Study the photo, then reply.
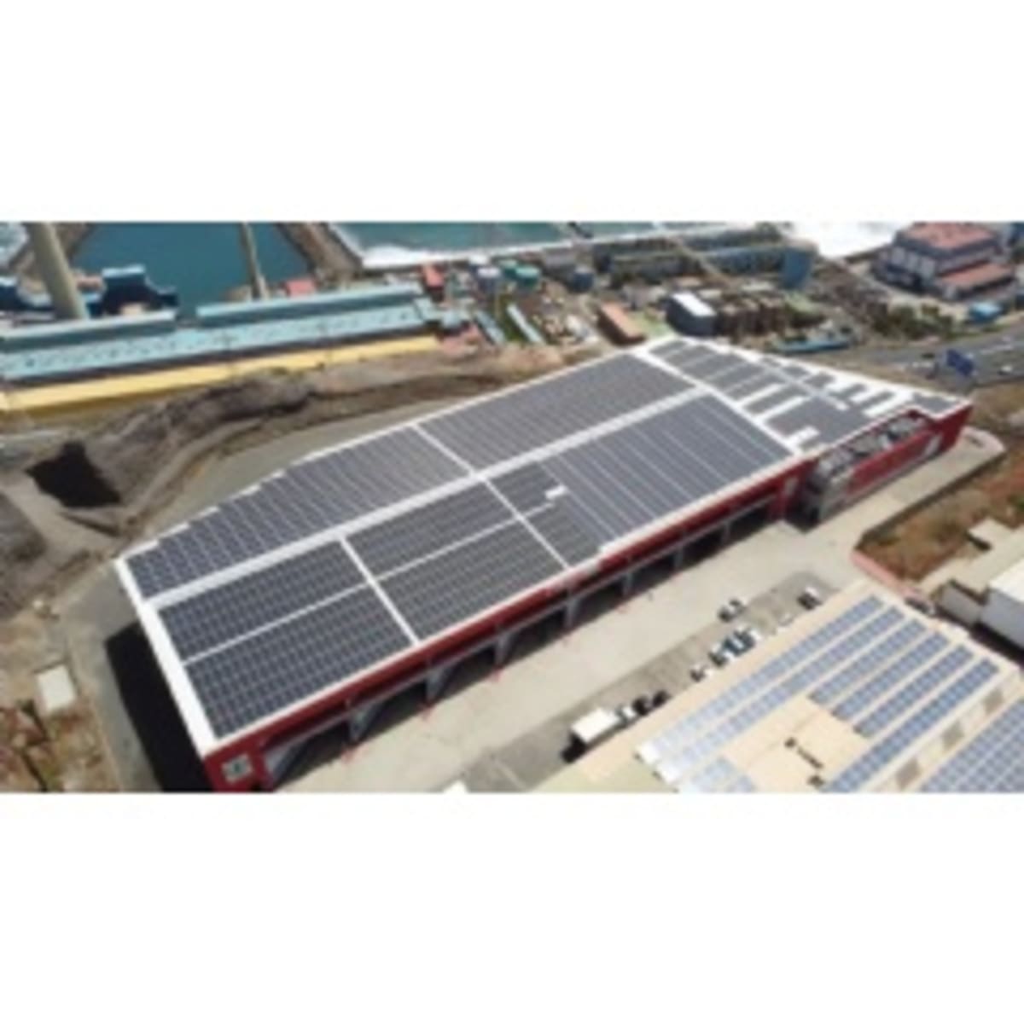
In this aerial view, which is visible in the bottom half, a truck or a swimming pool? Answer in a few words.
truck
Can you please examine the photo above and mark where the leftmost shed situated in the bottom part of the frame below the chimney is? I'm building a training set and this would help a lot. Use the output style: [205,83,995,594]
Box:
[37,666,80,720]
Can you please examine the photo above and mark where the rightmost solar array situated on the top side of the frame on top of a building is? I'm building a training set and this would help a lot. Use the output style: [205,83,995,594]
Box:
[915,392,957,410]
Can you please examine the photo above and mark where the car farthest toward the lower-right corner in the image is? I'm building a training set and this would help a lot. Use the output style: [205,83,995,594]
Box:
[912,596,940,615]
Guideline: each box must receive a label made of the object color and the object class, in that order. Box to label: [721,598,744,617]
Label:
gray car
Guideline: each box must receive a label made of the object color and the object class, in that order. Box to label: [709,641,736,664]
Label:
white car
